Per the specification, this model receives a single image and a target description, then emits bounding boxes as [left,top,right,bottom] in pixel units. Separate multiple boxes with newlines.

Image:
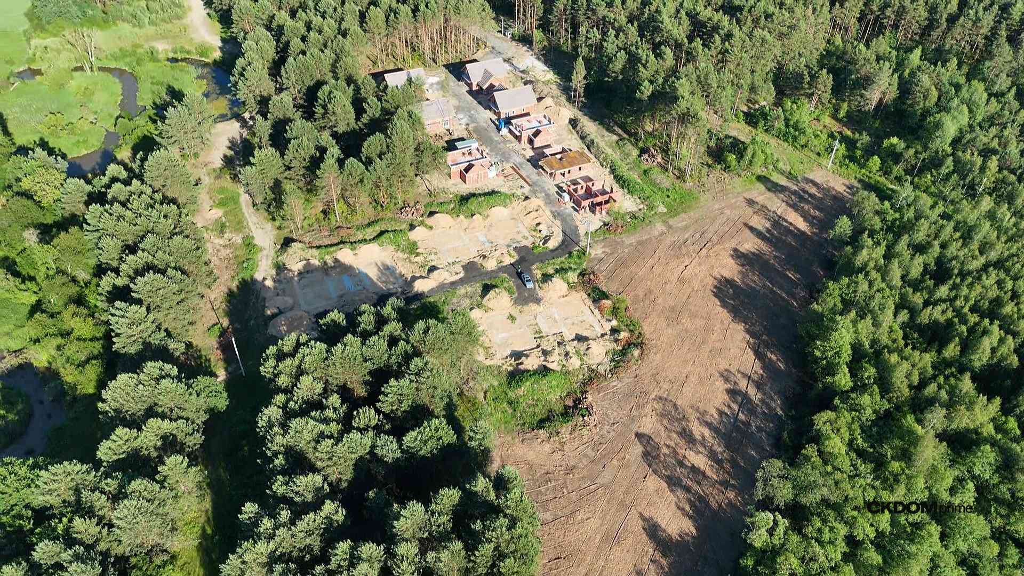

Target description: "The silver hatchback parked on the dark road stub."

[519,271,535,287]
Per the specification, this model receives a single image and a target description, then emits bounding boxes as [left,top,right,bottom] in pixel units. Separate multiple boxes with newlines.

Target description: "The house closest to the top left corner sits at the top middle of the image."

[381,67,427,99]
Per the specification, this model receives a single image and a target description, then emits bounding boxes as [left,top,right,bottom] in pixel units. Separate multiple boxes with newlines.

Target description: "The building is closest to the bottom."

[567,177,622,214]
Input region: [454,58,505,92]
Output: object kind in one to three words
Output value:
house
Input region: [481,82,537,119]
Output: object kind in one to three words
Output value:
house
